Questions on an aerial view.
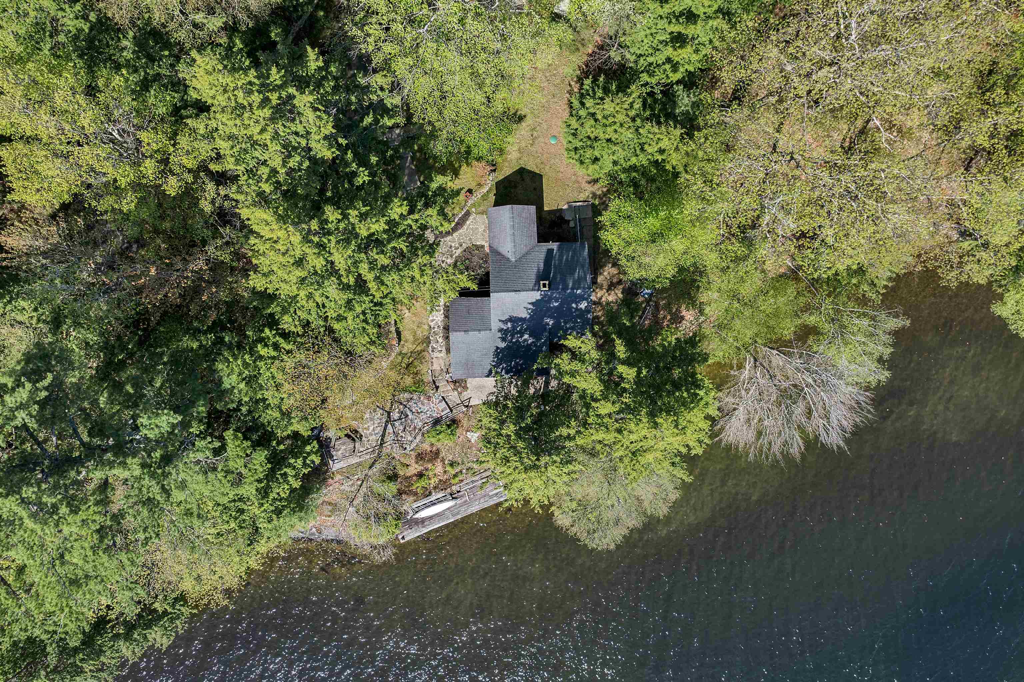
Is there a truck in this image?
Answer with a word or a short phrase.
No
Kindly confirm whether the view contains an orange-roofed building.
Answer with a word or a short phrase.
No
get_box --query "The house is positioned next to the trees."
[449,203,593,380]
